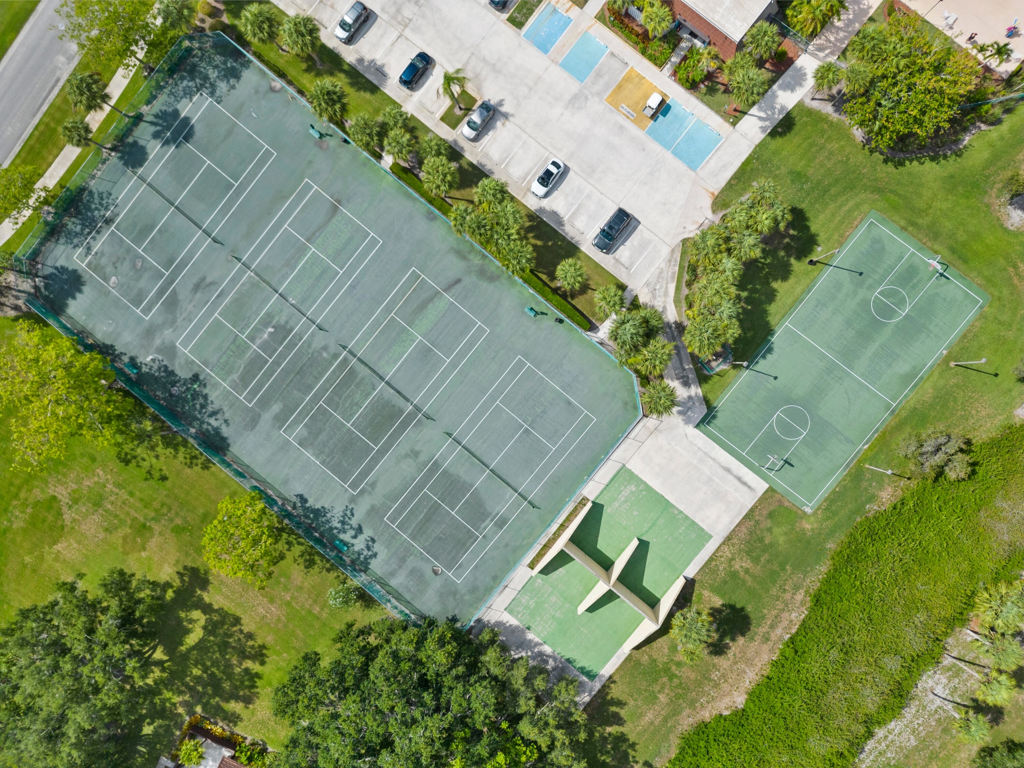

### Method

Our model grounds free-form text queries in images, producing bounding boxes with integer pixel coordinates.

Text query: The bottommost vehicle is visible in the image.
[595,208,632,252]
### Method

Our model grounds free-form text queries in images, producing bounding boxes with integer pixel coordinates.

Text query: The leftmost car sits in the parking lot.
[336,2,369,44]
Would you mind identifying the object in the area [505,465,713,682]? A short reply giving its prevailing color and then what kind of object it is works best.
green sports court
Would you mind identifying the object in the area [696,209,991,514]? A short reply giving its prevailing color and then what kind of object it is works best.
green basketball court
